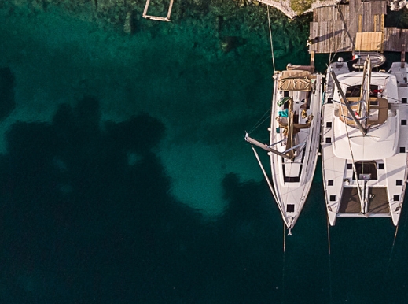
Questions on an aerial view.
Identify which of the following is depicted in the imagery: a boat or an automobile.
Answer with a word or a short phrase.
boat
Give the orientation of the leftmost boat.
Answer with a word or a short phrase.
vertically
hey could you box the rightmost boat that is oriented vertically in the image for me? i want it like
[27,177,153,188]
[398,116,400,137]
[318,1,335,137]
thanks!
[318,48,408,268]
